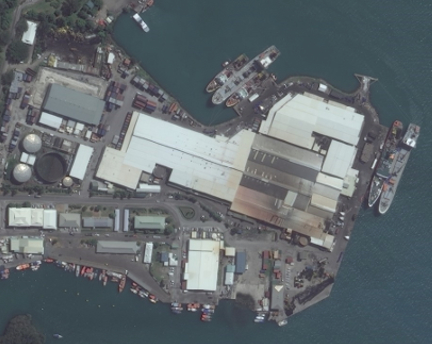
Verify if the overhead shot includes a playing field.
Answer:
No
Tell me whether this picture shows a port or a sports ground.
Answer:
port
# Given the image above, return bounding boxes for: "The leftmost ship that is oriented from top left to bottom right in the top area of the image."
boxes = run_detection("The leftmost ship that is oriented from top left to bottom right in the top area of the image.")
[134,12,148,31]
